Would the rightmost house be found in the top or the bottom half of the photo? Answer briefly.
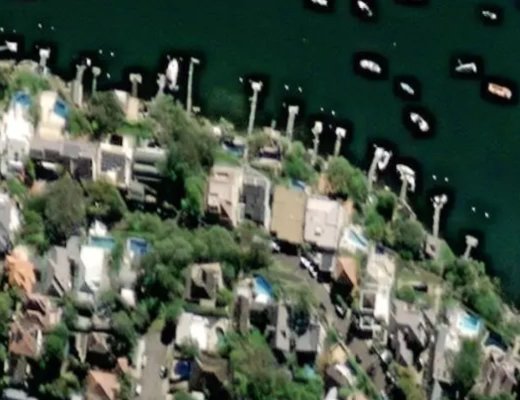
bottom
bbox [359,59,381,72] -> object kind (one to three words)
boat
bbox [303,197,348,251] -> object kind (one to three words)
building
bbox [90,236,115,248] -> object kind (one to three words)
swimming pool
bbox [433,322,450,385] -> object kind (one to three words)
house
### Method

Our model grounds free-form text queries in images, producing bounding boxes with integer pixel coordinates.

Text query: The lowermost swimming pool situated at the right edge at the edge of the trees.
[485,331,508,350]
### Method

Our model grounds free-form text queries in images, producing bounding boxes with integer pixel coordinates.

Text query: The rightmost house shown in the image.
[473,345,520,396]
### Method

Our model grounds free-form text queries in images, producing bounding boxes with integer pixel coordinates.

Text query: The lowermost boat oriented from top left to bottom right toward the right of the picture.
[410,113,430,134]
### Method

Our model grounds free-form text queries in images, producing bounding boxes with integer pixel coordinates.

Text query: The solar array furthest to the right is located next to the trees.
[101,152,125,173]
